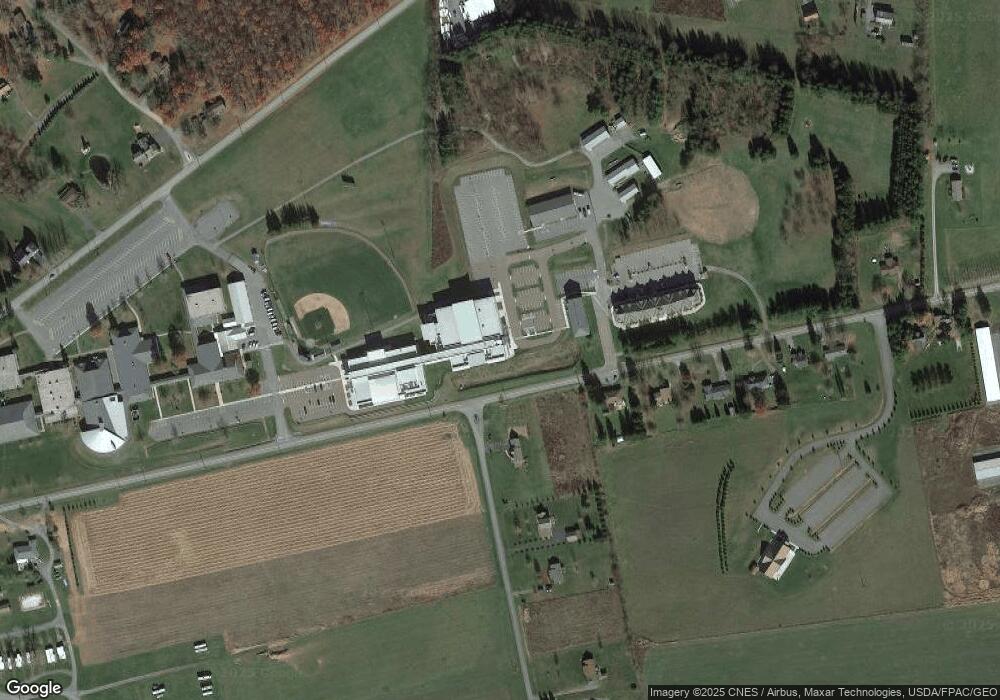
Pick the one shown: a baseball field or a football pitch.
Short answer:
baseball field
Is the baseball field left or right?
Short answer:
left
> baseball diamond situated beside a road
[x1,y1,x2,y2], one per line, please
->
[266,227,418,349]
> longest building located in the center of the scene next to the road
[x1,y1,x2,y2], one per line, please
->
[348,296,506,408]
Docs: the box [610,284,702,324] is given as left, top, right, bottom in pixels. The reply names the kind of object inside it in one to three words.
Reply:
building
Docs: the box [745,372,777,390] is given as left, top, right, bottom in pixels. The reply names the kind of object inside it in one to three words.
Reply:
house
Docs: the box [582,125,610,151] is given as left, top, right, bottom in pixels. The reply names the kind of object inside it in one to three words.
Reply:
shed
